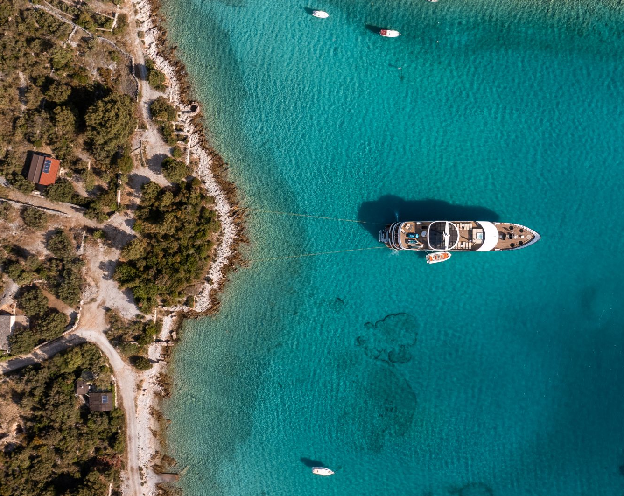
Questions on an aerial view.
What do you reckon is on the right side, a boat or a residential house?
boat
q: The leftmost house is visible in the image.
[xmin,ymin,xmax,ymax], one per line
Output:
[0,315,15,350]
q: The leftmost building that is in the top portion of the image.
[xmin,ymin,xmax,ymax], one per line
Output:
[28,154,63,186]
